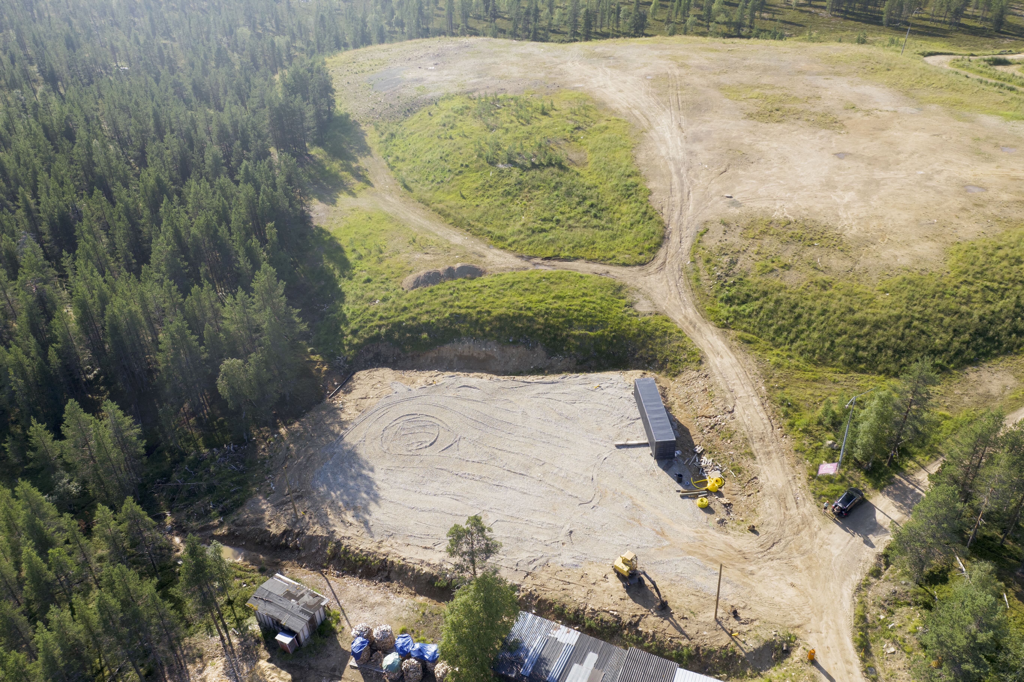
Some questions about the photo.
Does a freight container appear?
Yes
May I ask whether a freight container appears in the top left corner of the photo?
No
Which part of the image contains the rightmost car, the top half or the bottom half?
bottom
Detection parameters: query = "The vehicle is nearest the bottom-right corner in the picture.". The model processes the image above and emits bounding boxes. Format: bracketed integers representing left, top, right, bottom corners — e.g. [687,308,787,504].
[827,488,865,521]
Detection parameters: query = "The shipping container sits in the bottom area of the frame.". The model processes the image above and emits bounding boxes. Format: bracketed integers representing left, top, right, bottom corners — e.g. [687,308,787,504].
[634,377,677,458]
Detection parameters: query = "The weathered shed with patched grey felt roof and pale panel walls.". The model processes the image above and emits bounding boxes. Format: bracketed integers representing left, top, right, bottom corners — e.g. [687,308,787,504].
[244,575,330,645]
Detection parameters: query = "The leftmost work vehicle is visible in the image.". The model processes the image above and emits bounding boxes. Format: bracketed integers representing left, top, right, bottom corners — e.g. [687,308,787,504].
[612,549,670,605]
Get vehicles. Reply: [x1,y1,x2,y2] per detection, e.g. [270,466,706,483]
[612,549,670,605]
[827,488,865,521]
